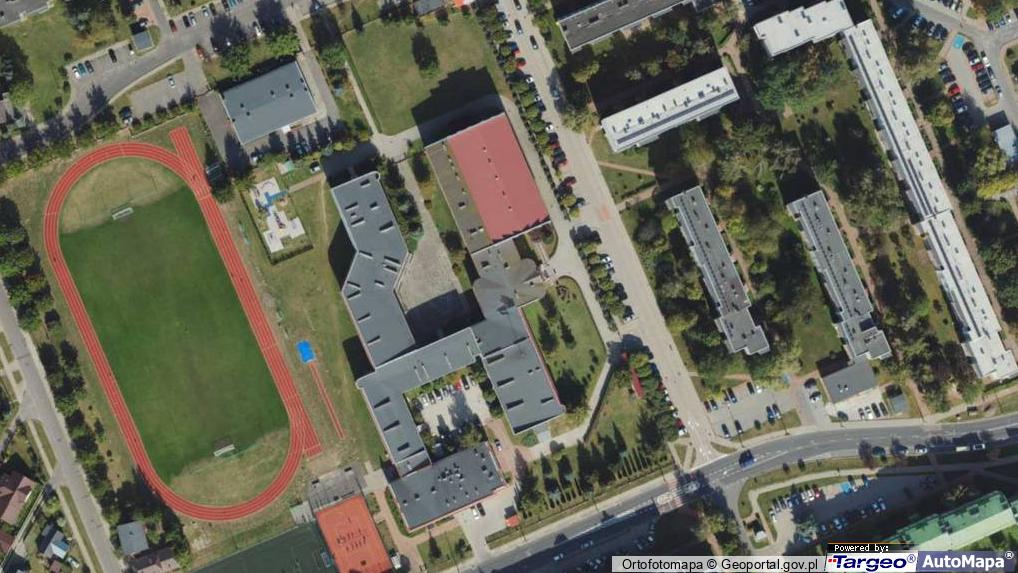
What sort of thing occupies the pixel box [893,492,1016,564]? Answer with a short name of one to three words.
building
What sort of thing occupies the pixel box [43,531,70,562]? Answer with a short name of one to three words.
house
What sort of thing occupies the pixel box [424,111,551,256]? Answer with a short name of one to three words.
building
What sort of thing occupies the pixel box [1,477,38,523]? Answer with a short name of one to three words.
house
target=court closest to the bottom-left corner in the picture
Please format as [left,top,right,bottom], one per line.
[188,516,338,573]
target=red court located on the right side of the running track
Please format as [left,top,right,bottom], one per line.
[316,494,395,573]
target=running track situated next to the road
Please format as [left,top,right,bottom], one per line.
[42,126,323,522]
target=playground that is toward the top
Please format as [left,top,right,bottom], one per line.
[252,178,304,253]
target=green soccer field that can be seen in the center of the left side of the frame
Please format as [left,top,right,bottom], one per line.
[59,157,289,505]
